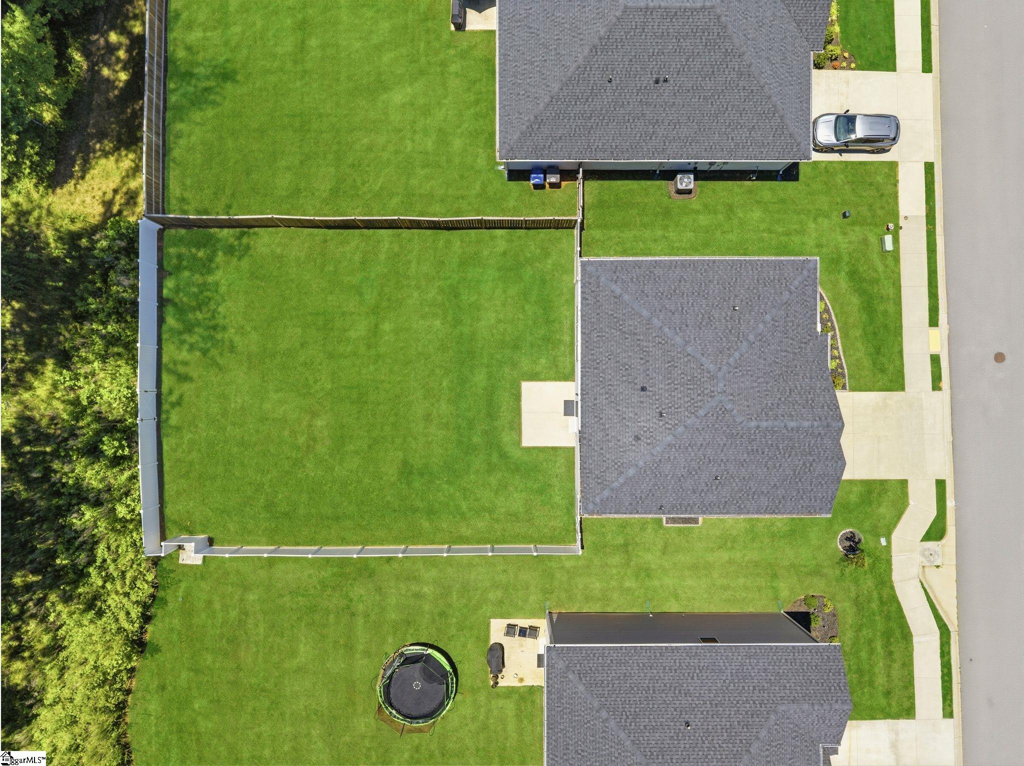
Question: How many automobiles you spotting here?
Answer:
1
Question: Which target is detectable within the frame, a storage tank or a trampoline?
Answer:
trampoline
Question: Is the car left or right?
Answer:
right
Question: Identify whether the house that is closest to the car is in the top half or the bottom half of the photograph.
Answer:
top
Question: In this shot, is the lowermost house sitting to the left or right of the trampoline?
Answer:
to the right of it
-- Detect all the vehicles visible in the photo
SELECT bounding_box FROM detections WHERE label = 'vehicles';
[814,106,902,152]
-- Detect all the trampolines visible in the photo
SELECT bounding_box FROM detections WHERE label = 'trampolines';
[370,639,464,739]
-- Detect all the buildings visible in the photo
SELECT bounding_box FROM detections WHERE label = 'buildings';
[574,256,847,518]
[494,0,833,175]
[542,608,854,766]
